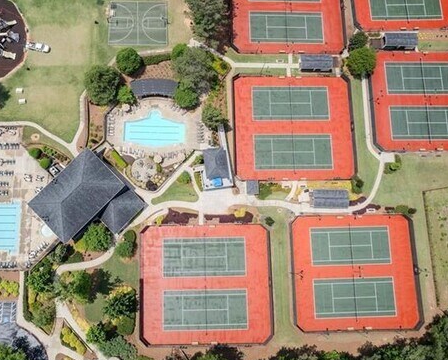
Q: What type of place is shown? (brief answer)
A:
sports ground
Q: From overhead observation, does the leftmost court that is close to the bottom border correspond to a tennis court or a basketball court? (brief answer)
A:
tennis court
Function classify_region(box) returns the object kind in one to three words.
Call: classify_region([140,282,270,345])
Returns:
tennis court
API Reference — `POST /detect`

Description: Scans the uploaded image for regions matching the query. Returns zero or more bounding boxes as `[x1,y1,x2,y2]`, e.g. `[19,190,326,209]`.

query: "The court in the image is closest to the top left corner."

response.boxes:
[108,1,168,45]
